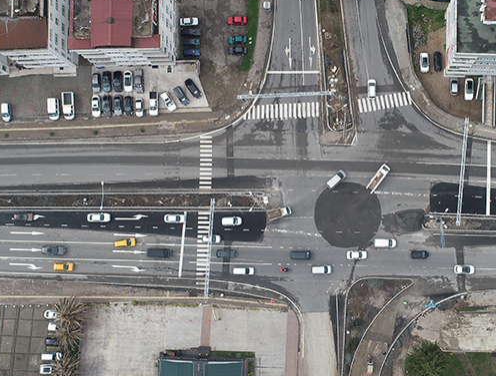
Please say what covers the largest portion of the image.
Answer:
paved ground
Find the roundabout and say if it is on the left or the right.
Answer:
right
